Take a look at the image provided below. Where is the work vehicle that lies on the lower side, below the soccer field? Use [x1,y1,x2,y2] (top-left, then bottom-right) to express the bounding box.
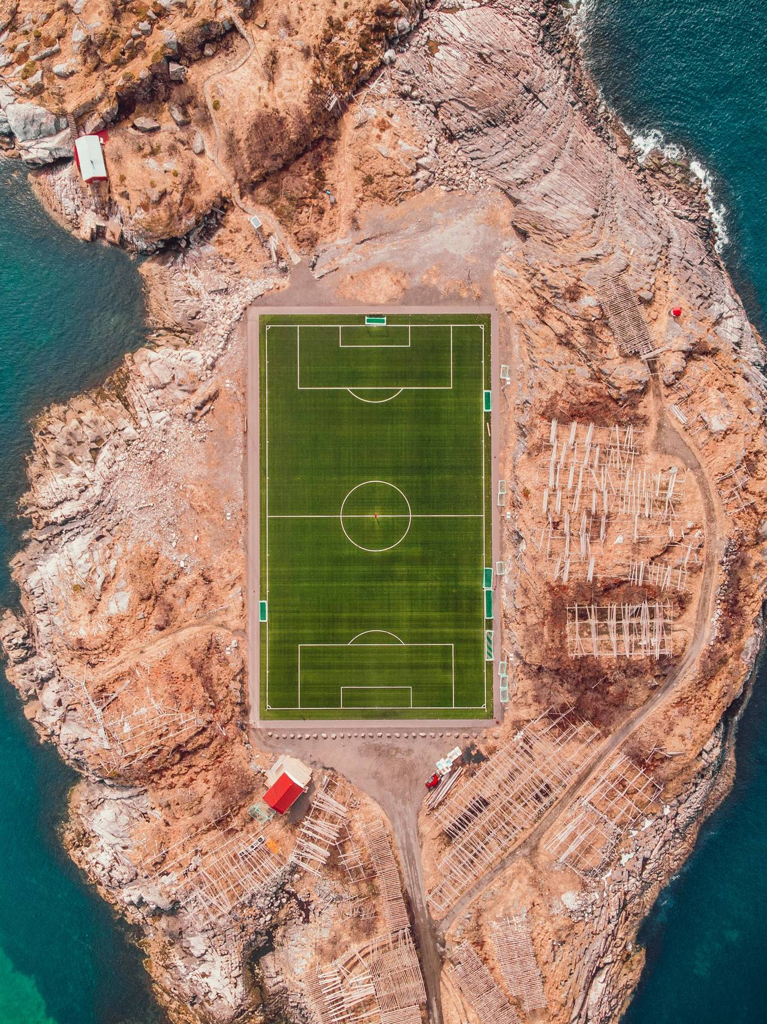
[425,772,439,785]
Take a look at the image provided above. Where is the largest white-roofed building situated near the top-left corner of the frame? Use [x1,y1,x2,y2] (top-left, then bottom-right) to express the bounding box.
[76,136,109,190]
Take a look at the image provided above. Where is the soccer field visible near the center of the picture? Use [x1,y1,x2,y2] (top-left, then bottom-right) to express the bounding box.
[258,315,493,720]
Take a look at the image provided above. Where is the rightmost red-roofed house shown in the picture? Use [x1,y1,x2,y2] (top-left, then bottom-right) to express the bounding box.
[263,770,304,815]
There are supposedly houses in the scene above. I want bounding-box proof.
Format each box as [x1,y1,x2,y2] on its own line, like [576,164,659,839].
[76,136,109,190]
[263,770,304,815]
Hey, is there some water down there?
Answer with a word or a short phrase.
Yes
